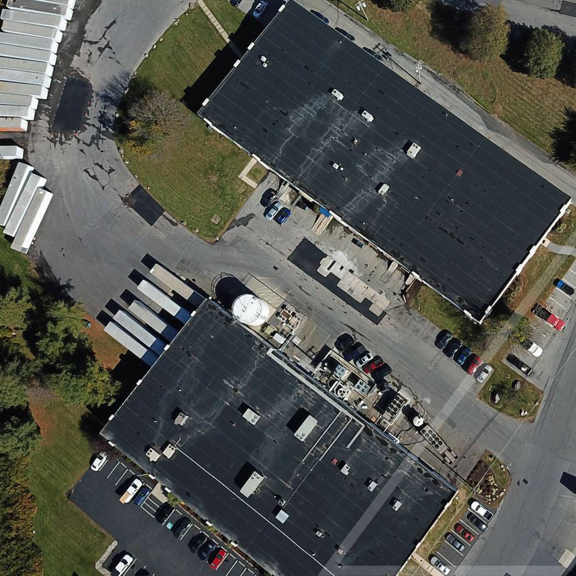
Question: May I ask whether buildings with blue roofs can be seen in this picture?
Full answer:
No, I find no building with a blue roof anywhere in the image.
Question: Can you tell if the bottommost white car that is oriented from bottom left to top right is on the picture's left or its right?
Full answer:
The bottommost white car that is oriented from bottom left to top right appears in the left half of the scene.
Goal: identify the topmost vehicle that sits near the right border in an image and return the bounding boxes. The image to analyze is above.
[553,277,576,298]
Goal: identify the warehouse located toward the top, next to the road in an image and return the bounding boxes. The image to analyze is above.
[197,0,571,324]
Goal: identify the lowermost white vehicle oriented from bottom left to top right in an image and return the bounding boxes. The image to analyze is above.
[114,555,135,576]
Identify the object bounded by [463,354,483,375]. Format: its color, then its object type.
red car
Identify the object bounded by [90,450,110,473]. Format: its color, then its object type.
white car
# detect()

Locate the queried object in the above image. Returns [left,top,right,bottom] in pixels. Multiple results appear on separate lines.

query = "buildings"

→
[101,299,461,576]
[197,0,571,324]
